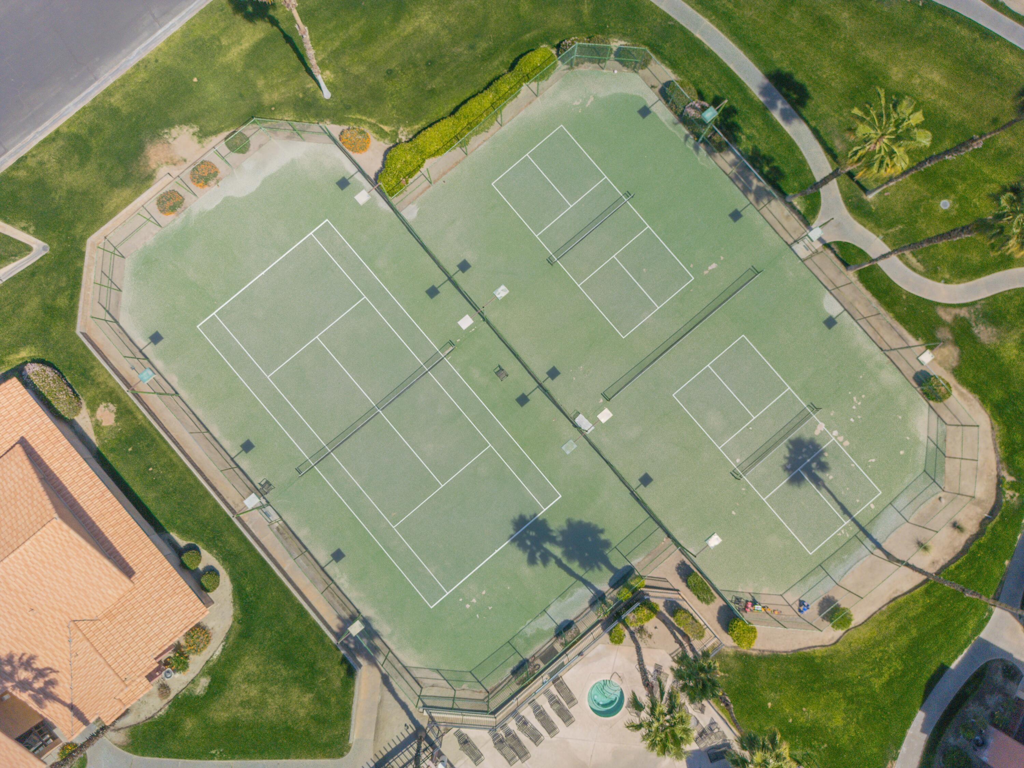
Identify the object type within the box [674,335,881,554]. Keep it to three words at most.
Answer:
sports court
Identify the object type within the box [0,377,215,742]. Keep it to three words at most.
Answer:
house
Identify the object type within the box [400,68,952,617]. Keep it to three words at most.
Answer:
sports court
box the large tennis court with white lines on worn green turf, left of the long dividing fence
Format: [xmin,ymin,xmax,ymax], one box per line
[118,140,668,692]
